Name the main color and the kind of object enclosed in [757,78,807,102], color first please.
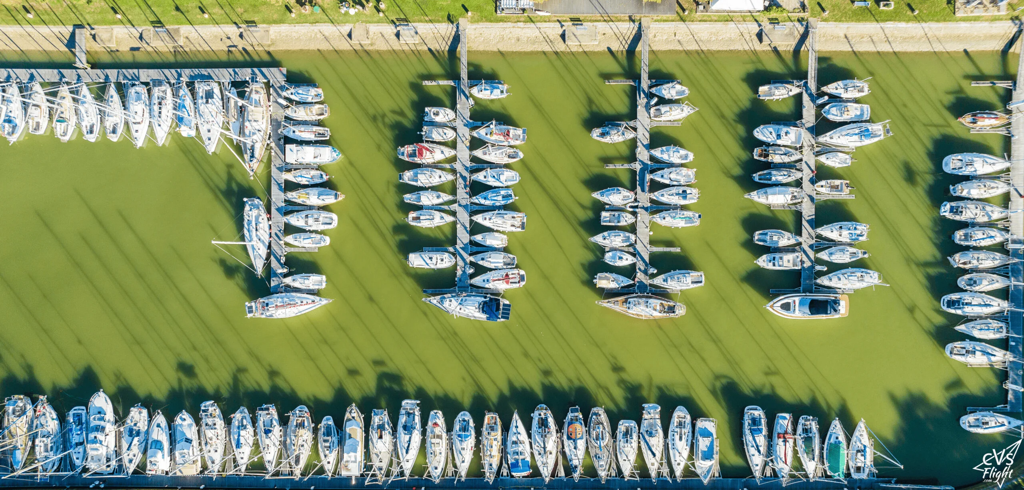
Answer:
white boat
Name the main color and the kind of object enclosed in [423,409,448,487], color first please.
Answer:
white boat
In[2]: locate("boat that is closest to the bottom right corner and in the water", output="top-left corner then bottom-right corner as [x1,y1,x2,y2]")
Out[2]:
[958,410,1024,441]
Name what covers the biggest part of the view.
water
